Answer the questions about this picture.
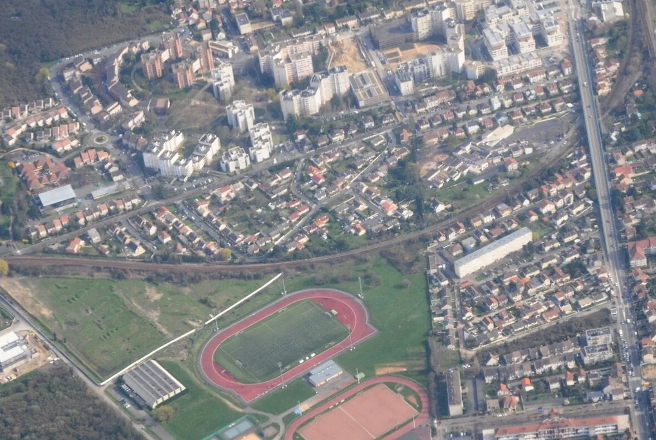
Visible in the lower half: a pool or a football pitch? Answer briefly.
football pitch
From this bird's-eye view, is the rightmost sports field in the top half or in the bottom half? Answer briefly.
bottom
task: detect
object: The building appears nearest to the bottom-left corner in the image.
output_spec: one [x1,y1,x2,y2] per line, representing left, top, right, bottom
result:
[0,331,27,372]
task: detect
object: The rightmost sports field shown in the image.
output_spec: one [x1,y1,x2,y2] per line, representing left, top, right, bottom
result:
[298,383,418,440]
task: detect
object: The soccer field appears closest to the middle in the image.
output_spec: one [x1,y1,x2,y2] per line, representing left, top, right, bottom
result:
[218,299,350,380]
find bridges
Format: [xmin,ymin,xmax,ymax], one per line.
[568,0,625,281]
